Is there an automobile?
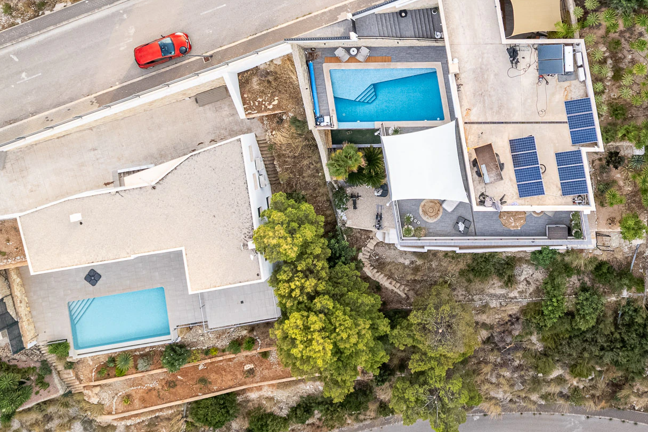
Yes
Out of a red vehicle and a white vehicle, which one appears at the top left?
red vehicle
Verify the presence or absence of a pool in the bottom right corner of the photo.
No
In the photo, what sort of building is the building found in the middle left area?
home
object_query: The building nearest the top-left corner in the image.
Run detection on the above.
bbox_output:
[19,134,269,293]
